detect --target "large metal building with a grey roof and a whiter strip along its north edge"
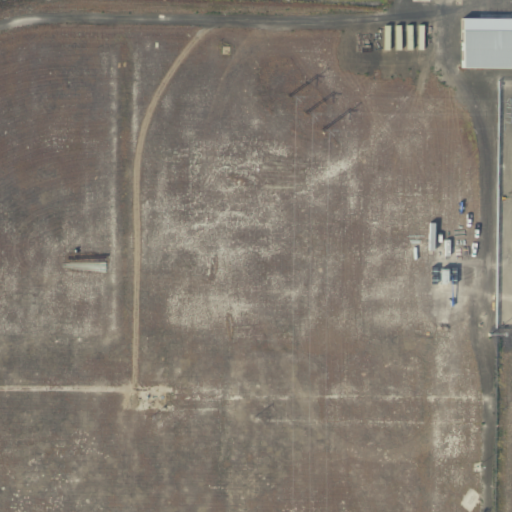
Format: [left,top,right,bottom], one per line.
[460,17,512,69]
